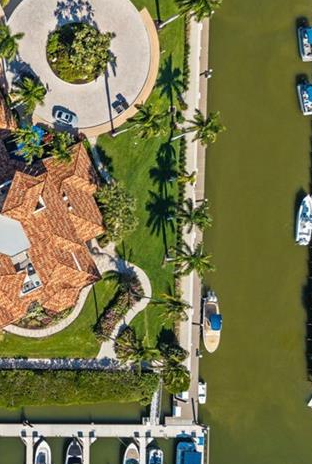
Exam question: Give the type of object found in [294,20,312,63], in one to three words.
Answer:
boat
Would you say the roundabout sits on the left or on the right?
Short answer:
left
